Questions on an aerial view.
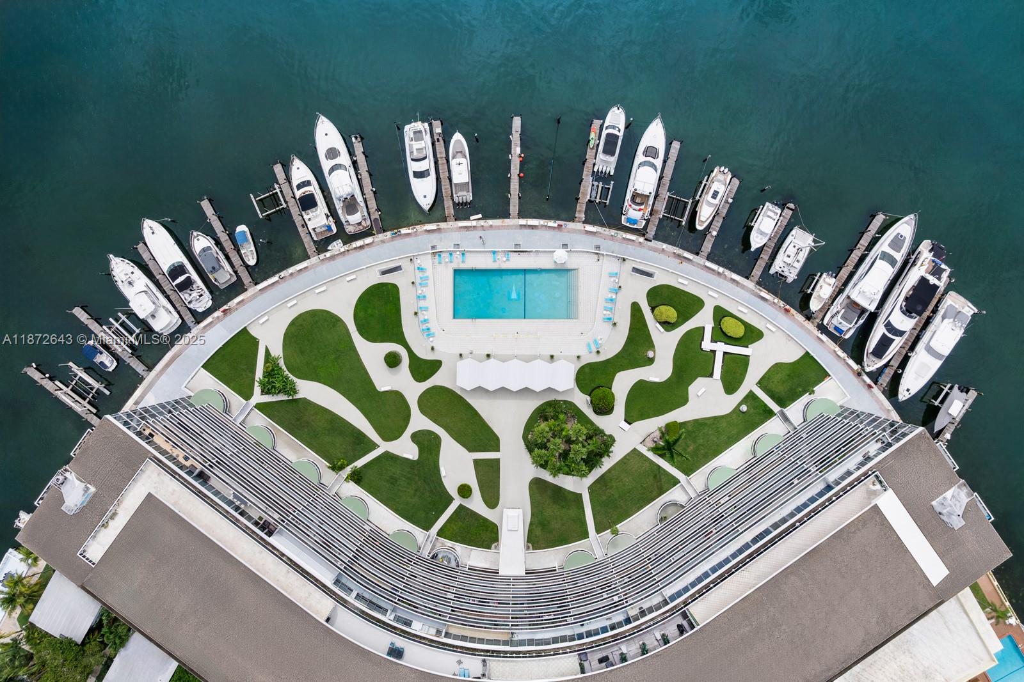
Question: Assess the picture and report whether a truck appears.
No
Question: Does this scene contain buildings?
Yes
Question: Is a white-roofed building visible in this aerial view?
Yes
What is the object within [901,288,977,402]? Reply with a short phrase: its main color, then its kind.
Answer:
white boat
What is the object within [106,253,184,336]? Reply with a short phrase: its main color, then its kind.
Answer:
white boat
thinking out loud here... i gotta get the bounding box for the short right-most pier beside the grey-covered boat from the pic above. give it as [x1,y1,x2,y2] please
[933,389,984,446]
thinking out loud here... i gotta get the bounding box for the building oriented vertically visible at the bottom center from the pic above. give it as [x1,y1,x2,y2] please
[499,508,526,574]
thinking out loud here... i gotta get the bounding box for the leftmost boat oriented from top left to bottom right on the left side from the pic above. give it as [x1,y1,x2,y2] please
[80,342,117,371]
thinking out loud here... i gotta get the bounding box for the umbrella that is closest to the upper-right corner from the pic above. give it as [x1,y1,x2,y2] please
[554,249,567,263]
